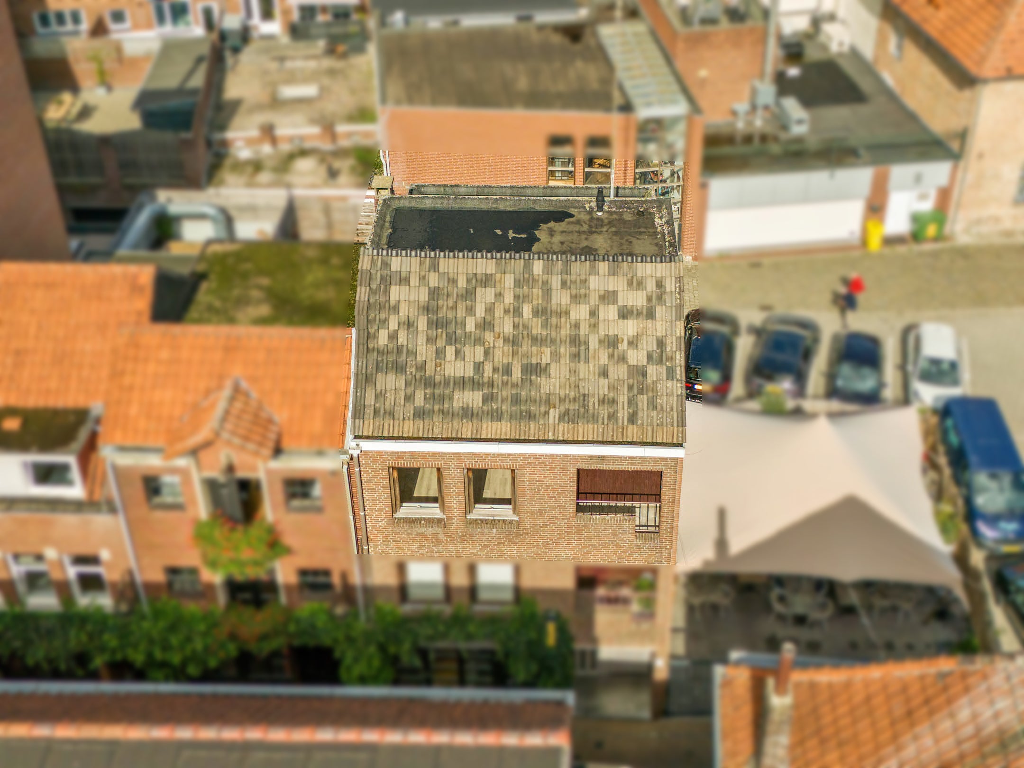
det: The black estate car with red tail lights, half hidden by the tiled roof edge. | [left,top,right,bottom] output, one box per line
[685,322,749,404]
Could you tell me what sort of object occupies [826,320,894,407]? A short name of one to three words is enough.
car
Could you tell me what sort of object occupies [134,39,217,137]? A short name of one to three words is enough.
shed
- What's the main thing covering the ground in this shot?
buildings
